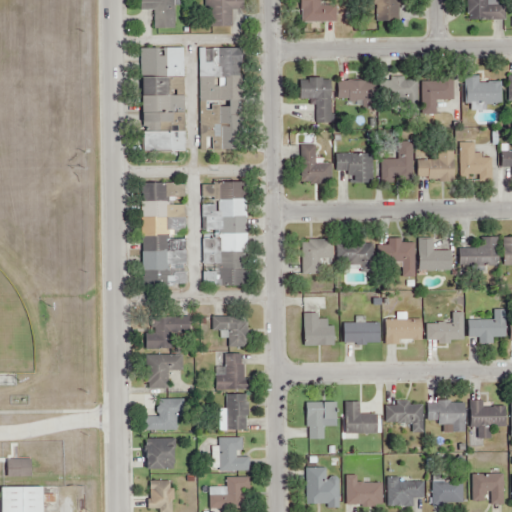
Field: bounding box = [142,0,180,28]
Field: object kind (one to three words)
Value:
house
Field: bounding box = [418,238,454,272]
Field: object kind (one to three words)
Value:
house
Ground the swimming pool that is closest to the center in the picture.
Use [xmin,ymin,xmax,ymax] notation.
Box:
[344,270,367,284]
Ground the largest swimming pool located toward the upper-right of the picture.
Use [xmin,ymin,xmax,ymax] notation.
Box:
[474,110,498,124]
